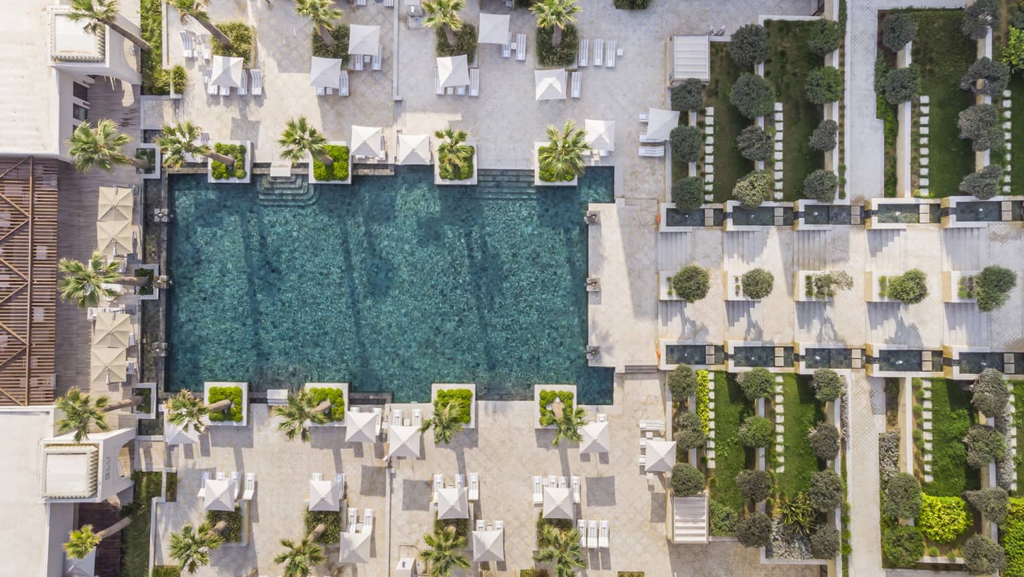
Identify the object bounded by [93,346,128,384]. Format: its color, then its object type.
white umbrella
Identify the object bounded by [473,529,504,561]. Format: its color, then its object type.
white umbrella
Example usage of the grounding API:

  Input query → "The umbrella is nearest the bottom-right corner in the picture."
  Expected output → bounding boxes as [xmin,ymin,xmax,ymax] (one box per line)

[644,440,675,471]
